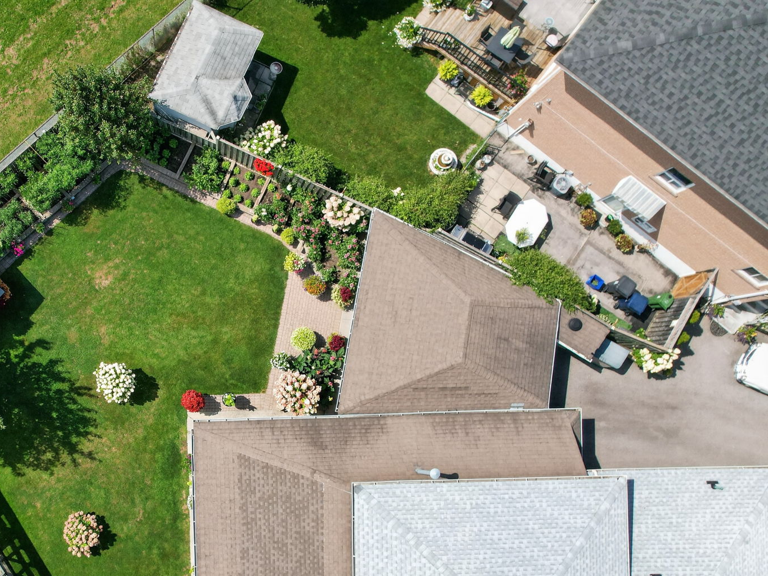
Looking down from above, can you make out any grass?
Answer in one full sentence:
Yes, grass can be seen from above here.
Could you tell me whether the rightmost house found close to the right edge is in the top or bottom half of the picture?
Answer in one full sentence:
The rightmost house found close to the right edge sits in the top half of the picture.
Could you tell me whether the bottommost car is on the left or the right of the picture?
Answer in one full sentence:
The bottommost car appears in the right half of the scene.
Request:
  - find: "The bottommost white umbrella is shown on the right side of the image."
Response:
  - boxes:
[492,198,548,248]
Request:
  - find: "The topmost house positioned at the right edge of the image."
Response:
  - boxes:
[497,0,768,327]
